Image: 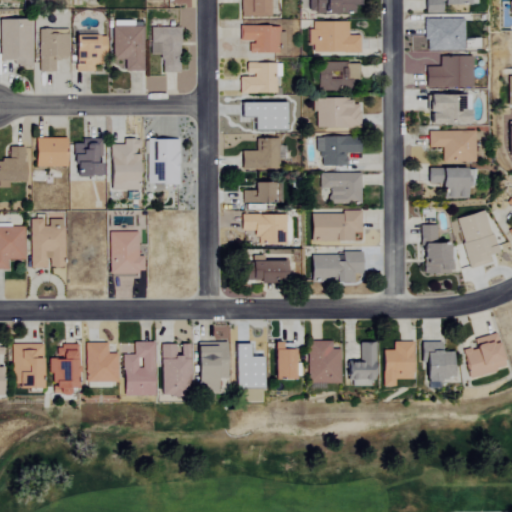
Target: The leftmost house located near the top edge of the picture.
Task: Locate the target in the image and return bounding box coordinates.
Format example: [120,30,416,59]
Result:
[1,18,34,69]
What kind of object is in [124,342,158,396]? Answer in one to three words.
house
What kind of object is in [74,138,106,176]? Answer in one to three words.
house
